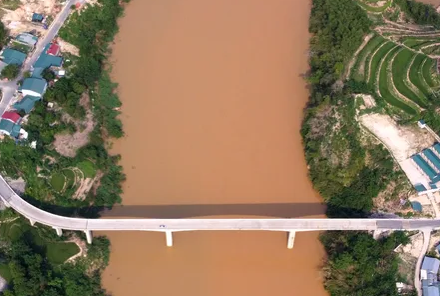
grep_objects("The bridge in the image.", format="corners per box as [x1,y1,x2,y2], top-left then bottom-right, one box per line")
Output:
[1,190,384,249]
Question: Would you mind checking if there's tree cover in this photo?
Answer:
Yes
